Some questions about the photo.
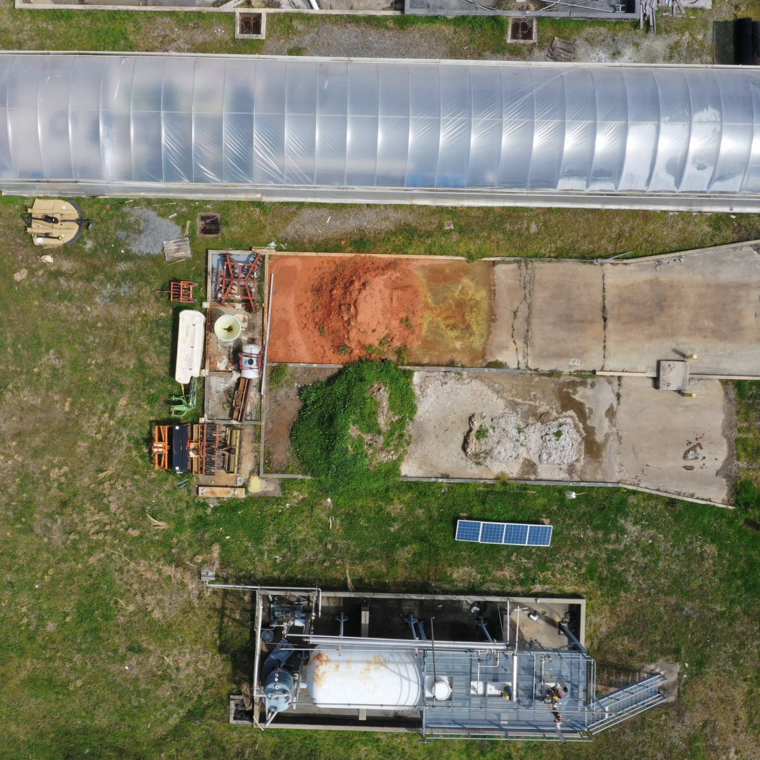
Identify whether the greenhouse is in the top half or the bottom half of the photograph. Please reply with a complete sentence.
It is in the top half that the greenhouse appears.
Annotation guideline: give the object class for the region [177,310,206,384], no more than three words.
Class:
storage tank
